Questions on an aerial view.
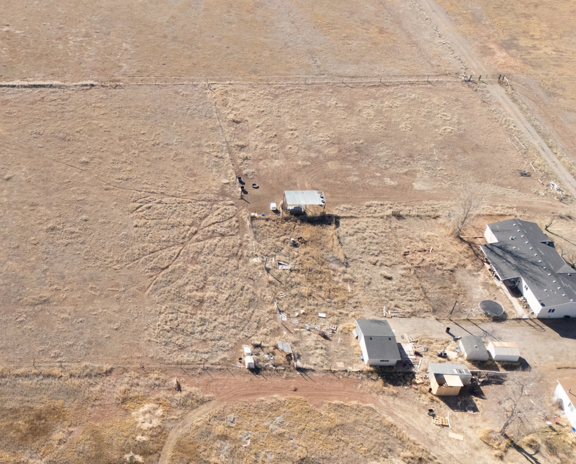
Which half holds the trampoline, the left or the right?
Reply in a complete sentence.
You can find the trampoline on the right side of the picture.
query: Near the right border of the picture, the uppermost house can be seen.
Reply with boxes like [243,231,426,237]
[478,217,576,317]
